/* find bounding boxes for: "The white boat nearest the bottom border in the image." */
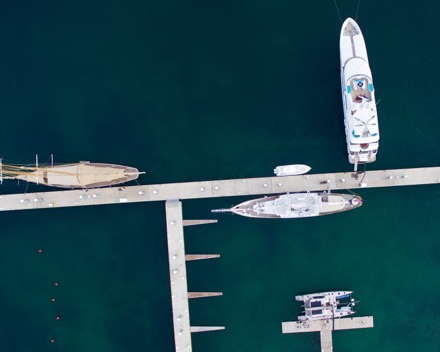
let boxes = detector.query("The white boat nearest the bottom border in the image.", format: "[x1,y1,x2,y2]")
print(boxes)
[296,291,361,331]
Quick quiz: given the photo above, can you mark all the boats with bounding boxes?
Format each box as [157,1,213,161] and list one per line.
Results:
[0,153,144,193]
[274,164,311,175]
[211,186,364,219]
[296,291,361,331]
[335,0,381,174]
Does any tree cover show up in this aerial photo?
No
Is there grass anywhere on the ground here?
No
